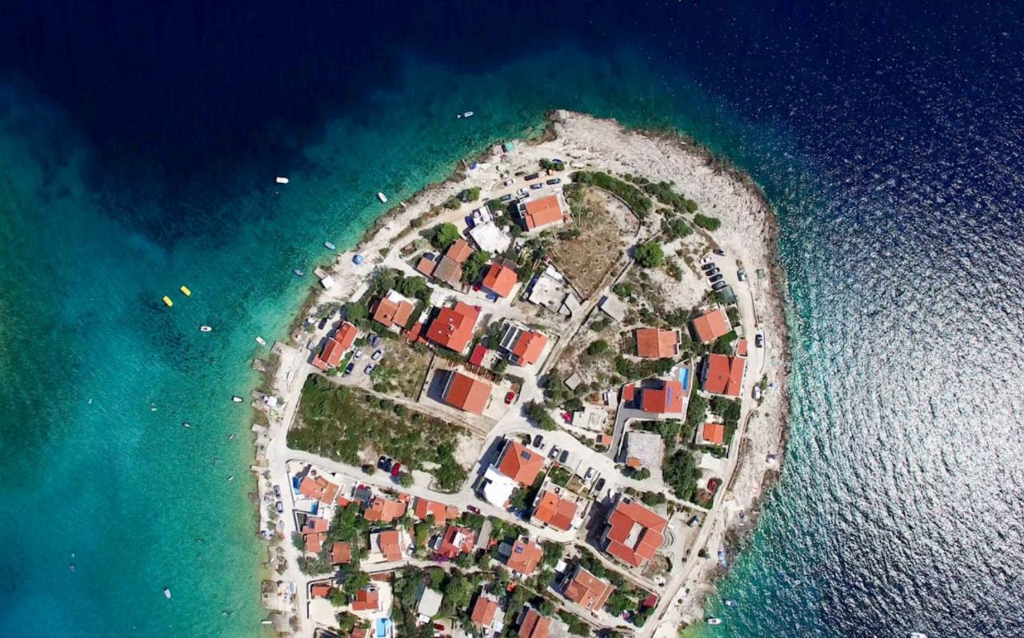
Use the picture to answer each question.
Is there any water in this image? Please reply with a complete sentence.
Yes, water can be seen from above here.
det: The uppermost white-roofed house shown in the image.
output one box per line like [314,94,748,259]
[470,206,511,255]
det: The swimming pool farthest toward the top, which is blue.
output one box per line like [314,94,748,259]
[677,368,690,391]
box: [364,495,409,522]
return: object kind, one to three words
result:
house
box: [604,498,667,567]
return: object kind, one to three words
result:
building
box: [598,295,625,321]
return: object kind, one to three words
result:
shed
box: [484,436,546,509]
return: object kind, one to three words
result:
house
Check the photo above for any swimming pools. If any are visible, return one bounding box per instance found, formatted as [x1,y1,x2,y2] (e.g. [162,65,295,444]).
[292,476,302,496]
[310,501,319,515]
[376,617,387,638]
[677,368,690,391]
